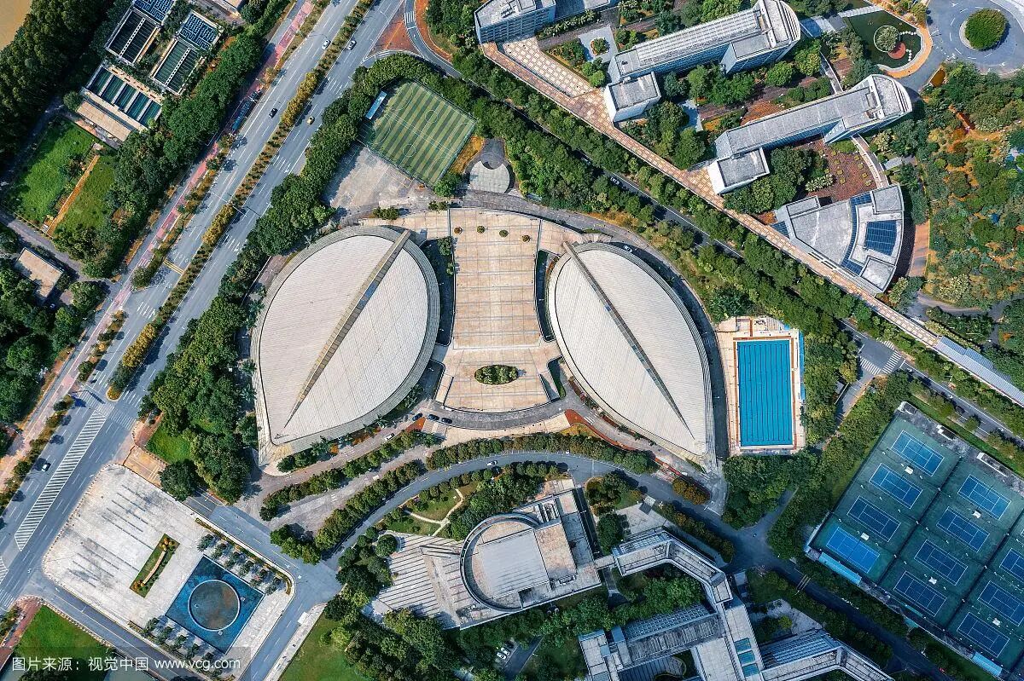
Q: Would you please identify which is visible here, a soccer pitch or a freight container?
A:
soccer pitch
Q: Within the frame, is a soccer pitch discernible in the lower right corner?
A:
No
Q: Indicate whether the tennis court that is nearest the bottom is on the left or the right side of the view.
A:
right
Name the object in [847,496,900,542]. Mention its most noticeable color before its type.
blue tennis court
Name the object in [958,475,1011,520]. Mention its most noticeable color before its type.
blue tennis court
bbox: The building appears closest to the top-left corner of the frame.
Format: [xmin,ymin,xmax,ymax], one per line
[76,100,136,141]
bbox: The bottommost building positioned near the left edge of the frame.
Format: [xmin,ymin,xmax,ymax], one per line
[16,248,68,301]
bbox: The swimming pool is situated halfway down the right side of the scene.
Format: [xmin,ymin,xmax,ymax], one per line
[715,316,805,454]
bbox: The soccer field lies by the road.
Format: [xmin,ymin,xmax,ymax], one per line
[362,82,475,185]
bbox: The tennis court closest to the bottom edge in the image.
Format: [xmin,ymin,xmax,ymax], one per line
[956,613,1010,658]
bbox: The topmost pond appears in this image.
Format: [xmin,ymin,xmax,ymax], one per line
[843,0,924,72]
